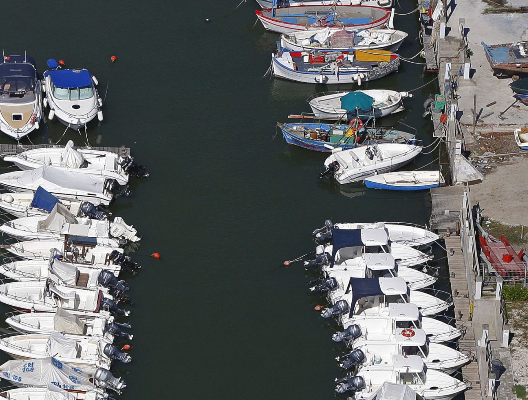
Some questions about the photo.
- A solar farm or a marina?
marina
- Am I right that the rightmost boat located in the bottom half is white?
No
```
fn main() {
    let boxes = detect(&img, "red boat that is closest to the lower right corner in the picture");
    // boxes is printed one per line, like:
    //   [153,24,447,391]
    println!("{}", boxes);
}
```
[481,228,524,277]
